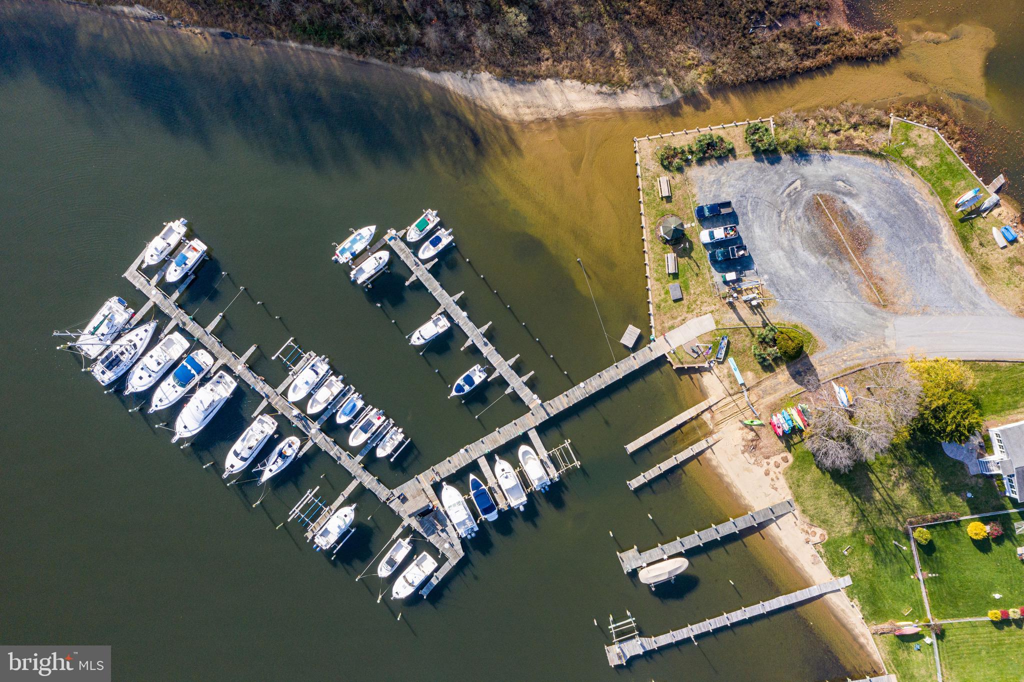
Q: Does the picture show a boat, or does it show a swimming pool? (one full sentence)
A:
Of the two, only a boat appears.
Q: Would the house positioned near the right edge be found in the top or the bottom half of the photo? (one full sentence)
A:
The bottom half of the photo is where the house positioned near the right edge is.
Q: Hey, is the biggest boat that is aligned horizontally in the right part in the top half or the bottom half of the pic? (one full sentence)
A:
Seen from above, the biggest boat that is aligned horizontally in the right part lies in the bottom half of the view.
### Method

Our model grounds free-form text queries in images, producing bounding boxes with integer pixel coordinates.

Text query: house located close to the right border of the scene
[972,420,1024,502]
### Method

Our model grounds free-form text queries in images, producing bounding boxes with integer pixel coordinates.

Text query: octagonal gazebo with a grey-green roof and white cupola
[655,215,683,242]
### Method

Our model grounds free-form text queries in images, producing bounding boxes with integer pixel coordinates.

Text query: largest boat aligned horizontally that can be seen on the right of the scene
[636,557,689,583]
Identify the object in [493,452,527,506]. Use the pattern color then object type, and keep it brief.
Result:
white boat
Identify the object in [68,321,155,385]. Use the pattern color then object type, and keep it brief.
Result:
white boat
